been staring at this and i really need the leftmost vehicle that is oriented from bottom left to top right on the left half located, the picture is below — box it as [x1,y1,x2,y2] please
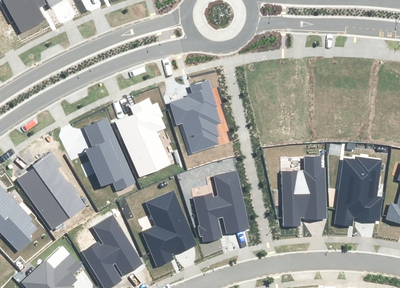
[0,148,14,163]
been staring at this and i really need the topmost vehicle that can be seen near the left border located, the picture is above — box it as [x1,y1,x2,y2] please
[18,117,38,134]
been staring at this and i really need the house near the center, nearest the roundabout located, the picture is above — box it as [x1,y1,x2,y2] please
[170,80,222,155]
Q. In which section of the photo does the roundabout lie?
top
